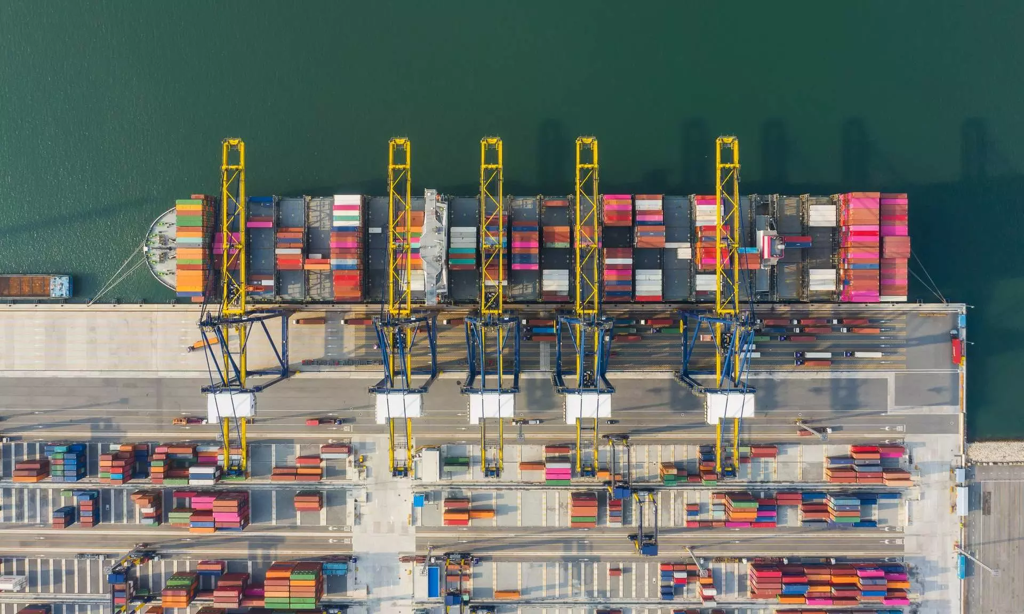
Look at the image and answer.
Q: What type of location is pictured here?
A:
port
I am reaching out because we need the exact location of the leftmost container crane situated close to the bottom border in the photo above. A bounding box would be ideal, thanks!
[109,554,151,614]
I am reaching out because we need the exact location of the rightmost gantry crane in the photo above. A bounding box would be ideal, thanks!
[660,135,766,474]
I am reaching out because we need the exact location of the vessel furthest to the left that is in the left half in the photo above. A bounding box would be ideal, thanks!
[0,275,76,297]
